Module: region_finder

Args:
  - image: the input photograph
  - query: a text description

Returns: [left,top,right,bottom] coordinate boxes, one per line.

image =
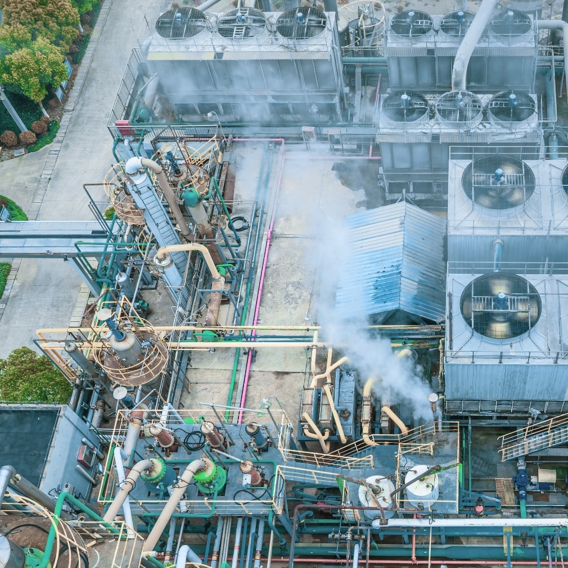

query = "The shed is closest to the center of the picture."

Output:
[335,185,445,346]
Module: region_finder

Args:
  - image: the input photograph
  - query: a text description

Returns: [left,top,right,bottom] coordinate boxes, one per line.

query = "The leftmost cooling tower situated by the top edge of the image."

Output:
[143,0,345,122]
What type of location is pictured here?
industrial area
